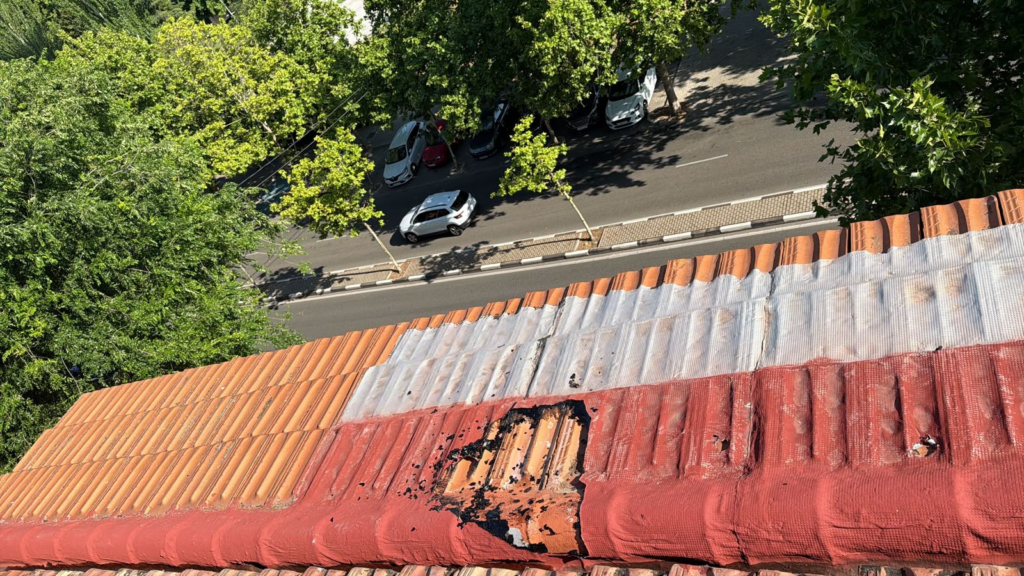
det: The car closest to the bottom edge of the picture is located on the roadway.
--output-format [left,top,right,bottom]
[396,189,478,245]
